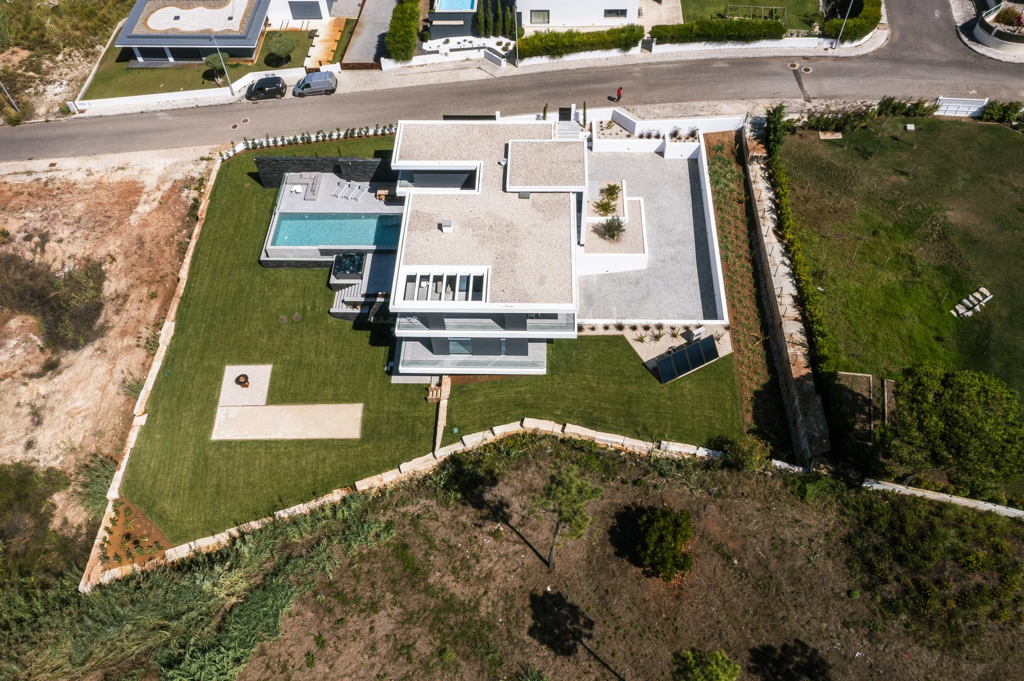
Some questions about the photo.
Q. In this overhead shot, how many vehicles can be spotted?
two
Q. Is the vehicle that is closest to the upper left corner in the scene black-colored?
Yes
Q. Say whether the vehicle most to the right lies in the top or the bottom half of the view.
top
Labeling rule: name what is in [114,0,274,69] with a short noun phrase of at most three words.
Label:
house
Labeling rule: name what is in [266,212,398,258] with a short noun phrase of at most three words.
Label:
swimming pool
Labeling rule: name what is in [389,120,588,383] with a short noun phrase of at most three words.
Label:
house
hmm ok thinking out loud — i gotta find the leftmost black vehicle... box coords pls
[245,75,287,99]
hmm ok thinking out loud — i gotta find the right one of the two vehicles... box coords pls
[291,70,338,95]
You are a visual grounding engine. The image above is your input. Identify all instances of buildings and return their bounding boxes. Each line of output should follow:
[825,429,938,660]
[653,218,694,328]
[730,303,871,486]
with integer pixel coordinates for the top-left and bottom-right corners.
[114,0,274,69]
[521,0,639,25]
[389,120,588,383]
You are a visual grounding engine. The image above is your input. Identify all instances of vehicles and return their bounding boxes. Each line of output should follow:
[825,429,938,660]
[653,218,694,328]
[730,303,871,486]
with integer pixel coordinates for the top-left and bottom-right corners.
[291,70,338,95]
[245,75,287,99]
